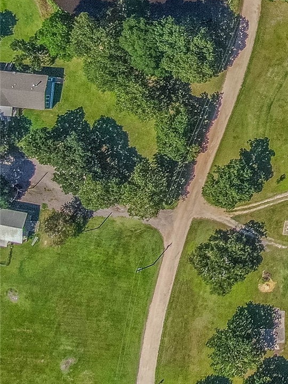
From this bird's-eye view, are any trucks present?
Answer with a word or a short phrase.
No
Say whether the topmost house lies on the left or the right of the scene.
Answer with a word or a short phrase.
left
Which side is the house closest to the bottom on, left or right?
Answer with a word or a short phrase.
left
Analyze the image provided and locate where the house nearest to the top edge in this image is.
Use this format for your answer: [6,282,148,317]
[0,71,63,110]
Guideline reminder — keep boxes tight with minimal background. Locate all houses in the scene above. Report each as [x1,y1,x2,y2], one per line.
[0,211,33,245]
[0,71,63,110]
